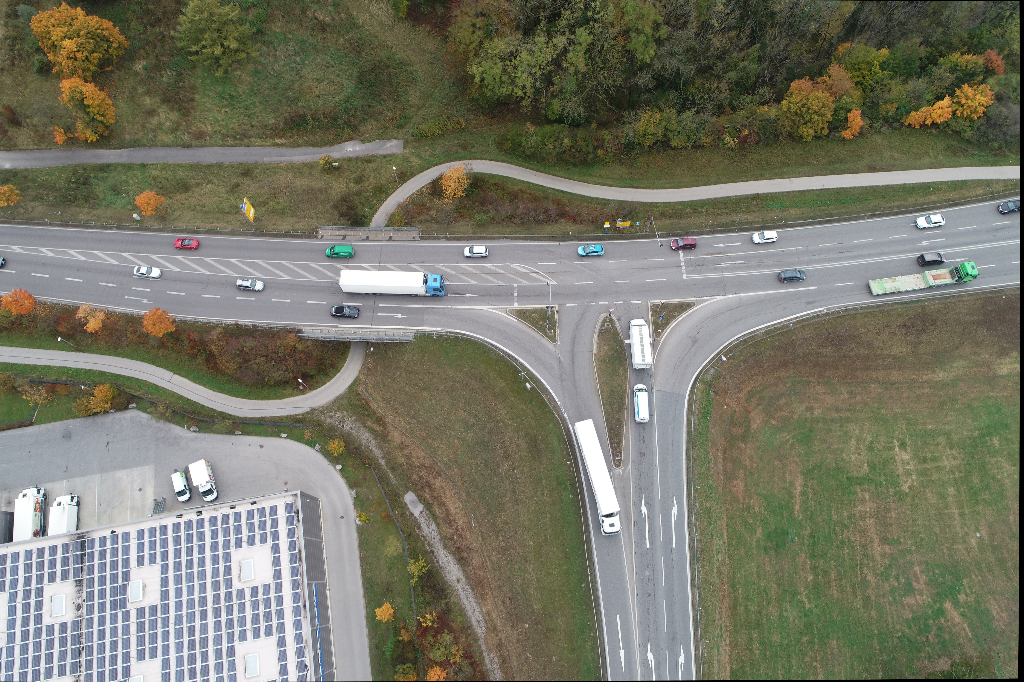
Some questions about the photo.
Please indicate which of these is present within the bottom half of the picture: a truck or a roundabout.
truck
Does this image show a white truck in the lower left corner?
Yes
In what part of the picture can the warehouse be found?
bottom left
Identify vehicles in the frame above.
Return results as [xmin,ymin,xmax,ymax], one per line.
[132,266,163,279]
[464,245,489,258]
[330,305,360,318]
[174,237,201,250]
[669,237,697,251]
[48,489,82,533]
[633,385,650,423]
[578,244,605,257]
[186,462,218,504]
[913,213,948,228]
[169,472,191,503]
[915,252,946,267]
[340,271,445,295]
[777,269,806,283]
[631,319,651,371]
[995,200,1024,215]
[573,420,621,534]
[751,231,780,244]
[325,244,356,258]
[13,483,49,539]
[234,278,266,292]
[0,257,7,269]
[868,262,980,295]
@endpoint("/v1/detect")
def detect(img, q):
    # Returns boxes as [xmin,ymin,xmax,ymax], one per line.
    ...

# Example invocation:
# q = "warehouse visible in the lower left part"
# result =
[0,491,336,682]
